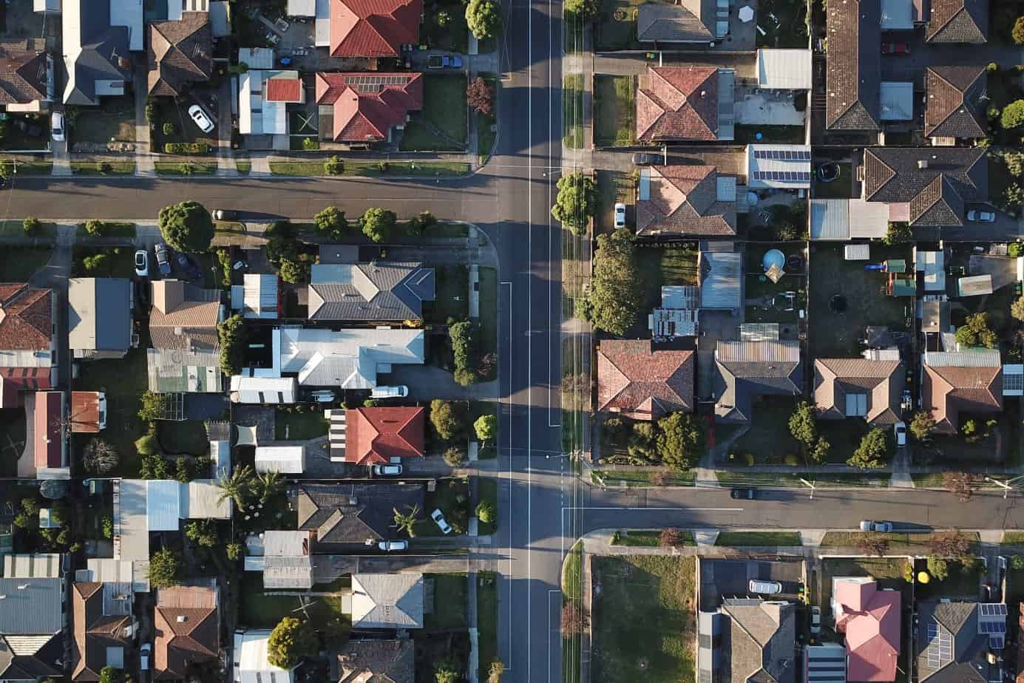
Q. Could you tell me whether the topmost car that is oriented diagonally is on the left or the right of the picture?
left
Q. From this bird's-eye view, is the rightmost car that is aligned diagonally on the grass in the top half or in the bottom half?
bottom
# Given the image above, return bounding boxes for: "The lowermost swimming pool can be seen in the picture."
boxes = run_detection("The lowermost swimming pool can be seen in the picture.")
[762,248,785,269]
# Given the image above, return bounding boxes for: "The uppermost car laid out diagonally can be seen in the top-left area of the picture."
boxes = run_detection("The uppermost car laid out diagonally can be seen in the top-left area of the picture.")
[187,103,215,134]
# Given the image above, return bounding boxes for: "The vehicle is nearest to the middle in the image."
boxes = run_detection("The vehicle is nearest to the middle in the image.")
[372,384,406,400]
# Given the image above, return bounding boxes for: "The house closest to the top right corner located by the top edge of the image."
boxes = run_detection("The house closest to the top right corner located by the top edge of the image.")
[913,0,988,45]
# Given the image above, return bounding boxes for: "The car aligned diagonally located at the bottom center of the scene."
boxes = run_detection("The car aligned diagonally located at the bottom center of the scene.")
[430,507,453,535]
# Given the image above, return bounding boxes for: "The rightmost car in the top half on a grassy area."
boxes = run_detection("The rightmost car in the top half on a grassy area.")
[613,202,628,230]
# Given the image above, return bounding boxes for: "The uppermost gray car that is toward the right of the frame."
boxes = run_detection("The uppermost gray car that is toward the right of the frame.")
[631,151,664,166]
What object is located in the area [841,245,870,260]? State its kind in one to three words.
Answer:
shed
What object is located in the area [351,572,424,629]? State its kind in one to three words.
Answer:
house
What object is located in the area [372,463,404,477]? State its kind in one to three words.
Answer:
car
